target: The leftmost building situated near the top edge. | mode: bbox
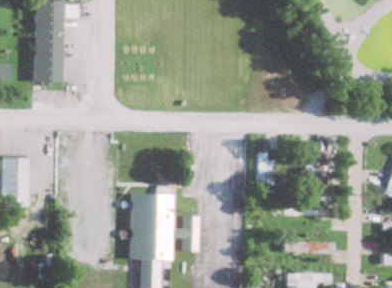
[32,0,64,82]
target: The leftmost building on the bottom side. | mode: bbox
[2,156,30,209]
